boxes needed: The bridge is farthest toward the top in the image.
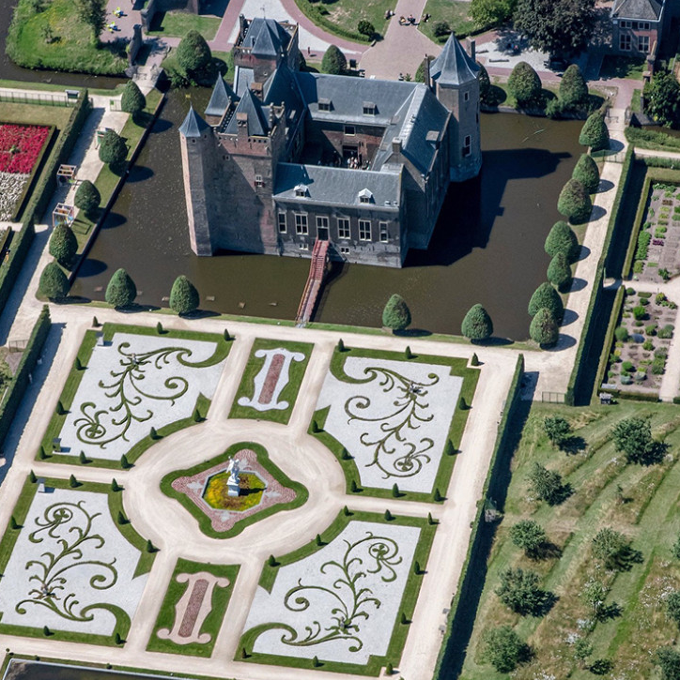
[130,61,165,94]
